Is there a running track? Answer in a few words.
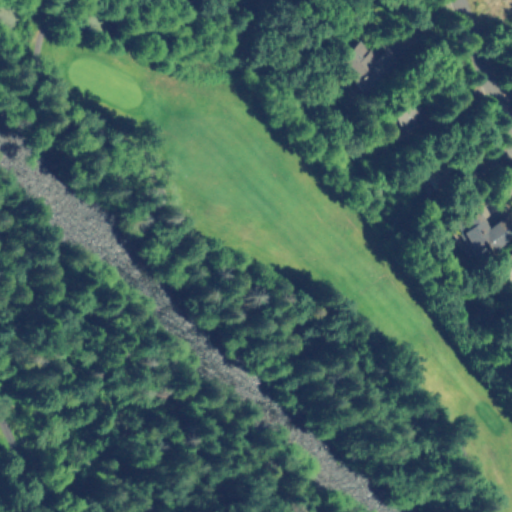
No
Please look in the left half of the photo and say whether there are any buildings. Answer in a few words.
No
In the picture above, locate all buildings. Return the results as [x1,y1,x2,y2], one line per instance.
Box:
[350,42,377,77]
[466,222,511,249]
[398,106,420,127]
